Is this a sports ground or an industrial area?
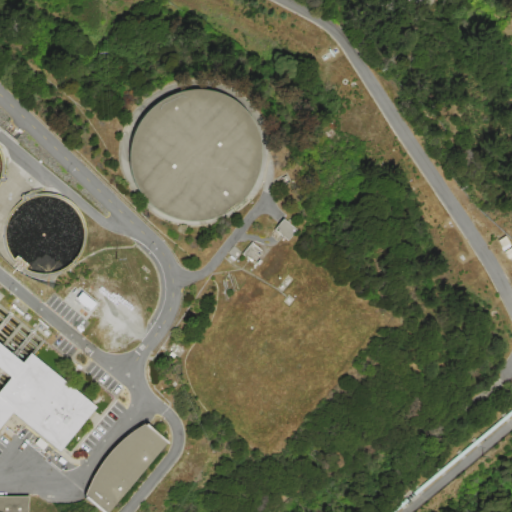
industrial area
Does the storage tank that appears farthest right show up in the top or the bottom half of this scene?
top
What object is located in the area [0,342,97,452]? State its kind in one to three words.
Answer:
building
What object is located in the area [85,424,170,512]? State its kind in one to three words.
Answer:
building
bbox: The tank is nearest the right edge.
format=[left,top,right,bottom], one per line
[130,88,262,220]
